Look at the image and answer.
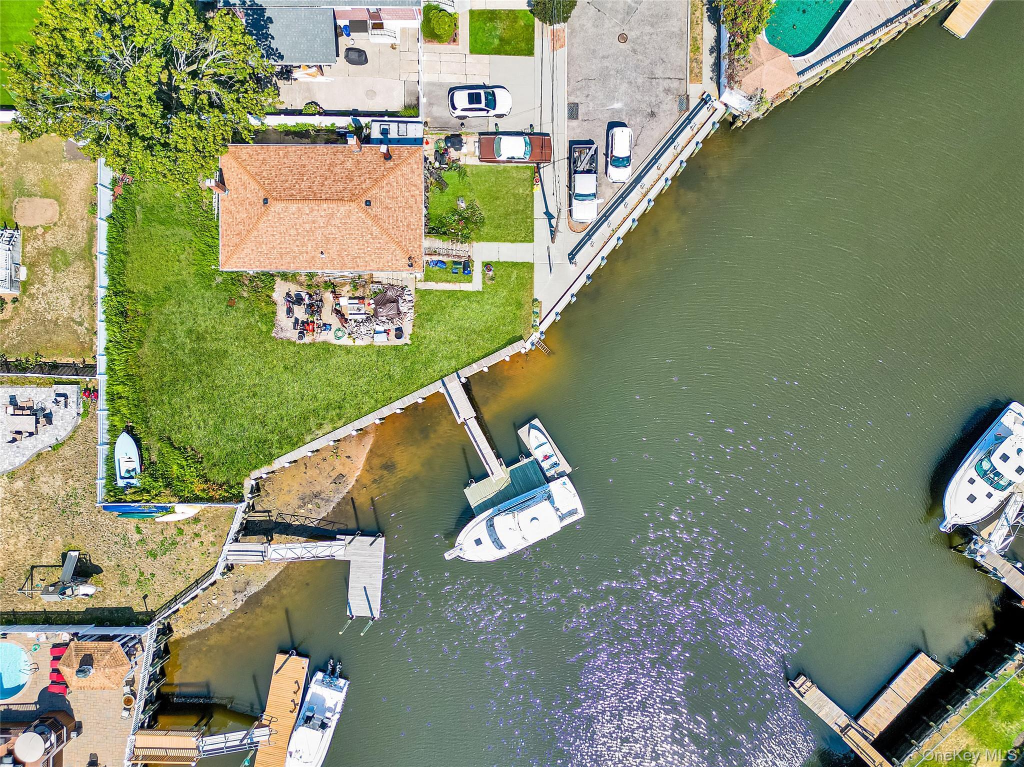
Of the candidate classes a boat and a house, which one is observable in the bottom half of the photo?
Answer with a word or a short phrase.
boat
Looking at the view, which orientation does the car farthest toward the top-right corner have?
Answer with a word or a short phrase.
from top to bottom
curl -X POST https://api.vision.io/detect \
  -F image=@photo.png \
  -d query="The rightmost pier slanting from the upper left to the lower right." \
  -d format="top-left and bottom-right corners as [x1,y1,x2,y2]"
[980,553,1024,599]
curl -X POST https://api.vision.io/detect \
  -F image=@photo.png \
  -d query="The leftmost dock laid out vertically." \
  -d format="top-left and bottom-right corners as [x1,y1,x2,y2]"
[254,653,310,767]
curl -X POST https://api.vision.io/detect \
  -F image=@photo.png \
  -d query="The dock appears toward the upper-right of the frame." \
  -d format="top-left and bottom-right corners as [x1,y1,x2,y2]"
[940,0,991,40]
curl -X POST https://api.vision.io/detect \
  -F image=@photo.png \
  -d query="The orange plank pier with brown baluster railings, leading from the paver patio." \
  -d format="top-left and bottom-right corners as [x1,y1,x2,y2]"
[118,718,209,766]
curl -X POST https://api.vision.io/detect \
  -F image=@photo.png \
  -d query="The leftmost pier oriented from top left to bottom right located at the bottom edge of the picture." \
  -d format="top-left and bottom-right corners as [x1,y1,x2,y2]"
[788,674,861,737]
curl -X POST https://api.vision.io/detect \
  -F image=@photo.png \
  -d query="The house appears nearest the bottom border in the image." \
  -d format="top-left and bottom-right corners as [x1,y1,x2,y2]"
[200,135,426,274]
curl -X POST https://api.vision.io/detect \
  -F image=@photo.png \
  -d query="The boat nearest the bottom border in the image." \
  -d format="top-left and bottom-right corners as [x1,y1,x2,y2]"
[288,654,349,767]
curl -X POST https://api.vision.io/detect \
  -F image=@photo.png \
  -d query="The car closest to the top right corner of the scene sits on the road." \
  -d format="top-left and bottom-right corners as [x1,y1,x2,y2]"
[607,119,638,183]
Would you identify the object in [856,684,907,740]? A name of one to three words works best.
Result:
pier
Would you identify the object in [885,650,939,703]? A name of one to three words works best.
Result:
pier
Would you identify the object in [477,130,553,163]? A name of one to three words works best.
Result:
car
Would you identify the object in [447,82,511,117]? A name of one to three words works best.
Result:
car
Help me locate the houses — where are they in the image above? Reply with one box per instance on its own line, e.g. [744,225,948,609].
[200,135,426,274]
[211,0,423,66]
